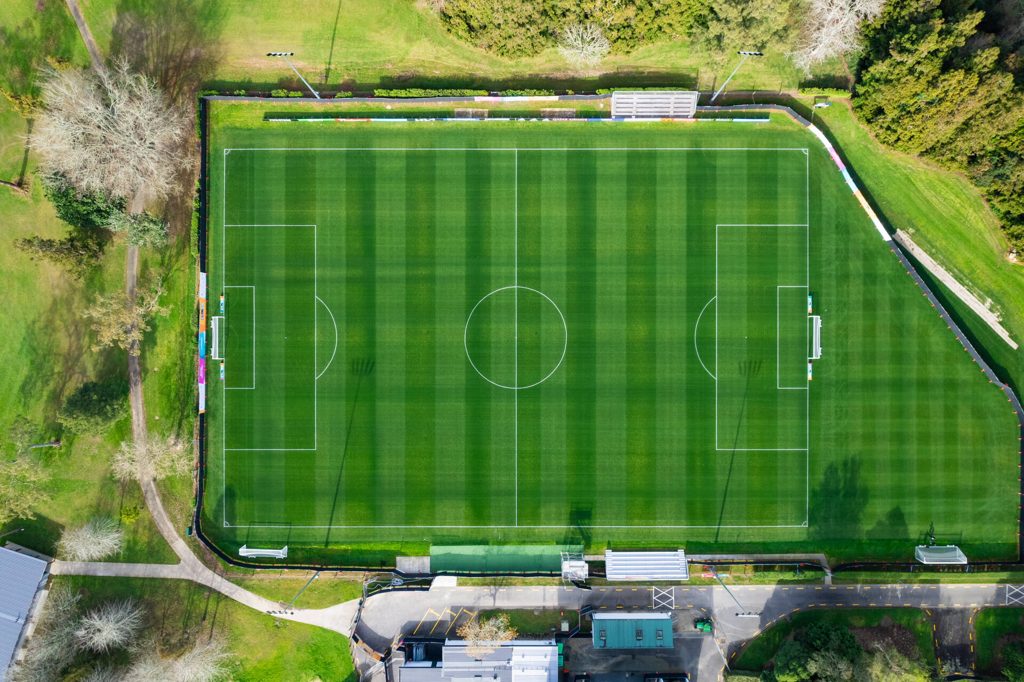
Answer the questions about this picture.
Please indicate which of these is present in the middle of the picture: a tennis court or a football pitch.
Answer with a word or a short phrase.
football pitch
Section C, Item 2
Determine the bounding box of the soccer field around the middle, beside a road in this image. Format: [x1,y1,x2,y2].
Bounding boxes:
[199,98,1020,574]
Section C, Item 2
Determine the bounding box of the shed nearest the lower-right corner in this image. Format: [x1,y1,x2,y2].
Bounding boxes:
[592,612,677,649]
